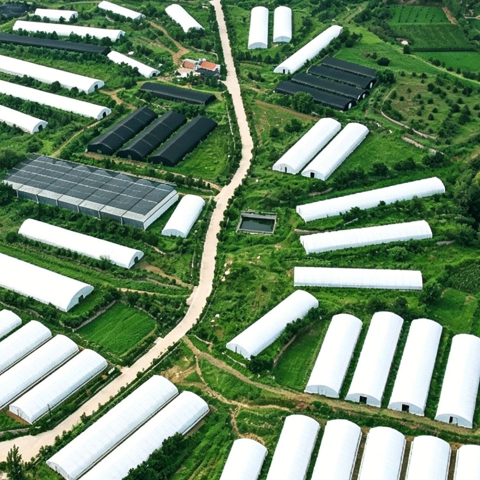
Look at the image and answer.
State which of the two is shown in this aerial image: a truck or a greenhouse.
greenhouse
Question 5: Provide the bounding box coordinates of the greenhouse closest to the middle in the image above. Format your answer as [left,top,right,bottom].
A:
[162,194,205,238]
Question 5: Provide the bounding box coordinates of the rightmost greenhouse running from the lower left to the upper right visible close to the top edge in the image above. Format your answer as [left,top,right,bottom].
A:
[275,22,343,74]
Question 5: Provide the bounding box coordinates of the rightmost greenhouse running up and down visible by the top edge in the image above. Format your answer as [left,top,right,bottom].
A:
[274,2,291,42]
